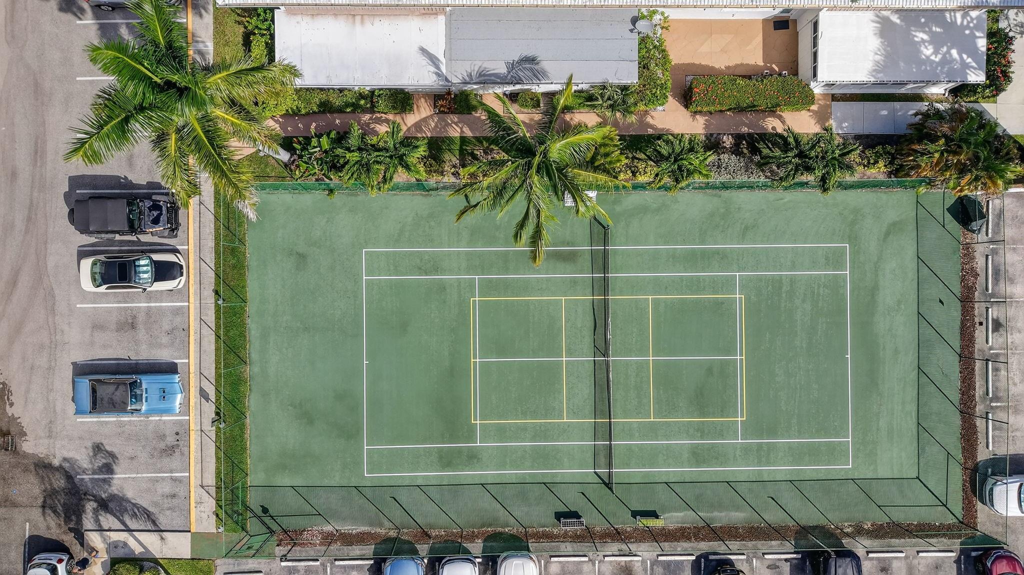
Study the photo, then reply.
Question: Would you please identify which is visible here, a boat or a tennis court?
tennis court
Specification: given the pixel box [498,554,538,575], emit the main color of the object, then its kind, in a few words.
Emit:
white car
